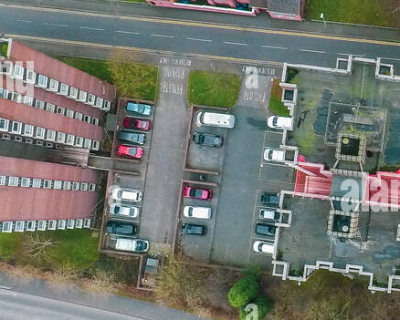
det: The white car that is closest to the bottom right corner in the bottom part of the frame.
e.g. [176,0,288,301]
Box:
[250,239,274,254]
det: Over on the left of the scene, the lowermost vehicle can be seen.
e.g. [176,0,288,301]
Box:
[111,237,148,253]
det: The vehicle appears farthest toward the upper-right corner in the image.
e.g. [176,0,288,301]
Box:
[266,112,290,129]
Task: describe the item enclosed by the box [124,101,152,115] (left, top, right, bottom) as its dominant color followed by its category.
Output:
blue vehicle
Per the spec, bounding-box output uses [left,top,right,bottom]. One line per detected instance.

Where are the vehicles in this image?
[254,205,278,221]
[266,112,290,129]
[262,145,283,161]
[191,130,221,146]
[116,131,145,145]
[182,186,212,201]
[253,223,276,237]
[124,101,152,115]
[110,187,141,202]
[115,144,143,158]
[250,239,274,254]
[195,108,234,128]
[104,220,136,235]
[108,202,138,218]
[121,116,150,130]
[255,190,279,205]
[182,204,211,219]
[111,237,148,253]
